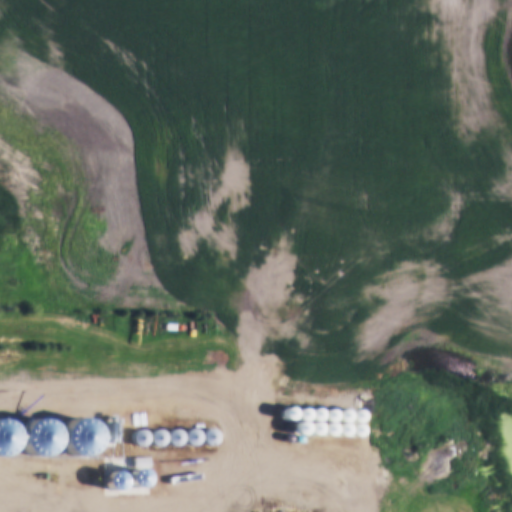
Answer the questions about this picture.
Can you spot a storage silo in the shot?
Yes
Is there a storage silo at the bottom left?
Yes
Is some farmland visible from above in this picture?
Yes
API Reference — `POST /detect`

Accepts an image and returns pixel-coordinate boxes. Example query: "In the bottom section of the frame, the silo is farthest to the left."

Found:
[0,417,28,458]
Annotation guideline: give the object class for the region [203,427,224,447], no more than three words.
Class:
silo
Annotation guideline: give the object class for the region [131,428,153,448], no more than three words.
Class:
silo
